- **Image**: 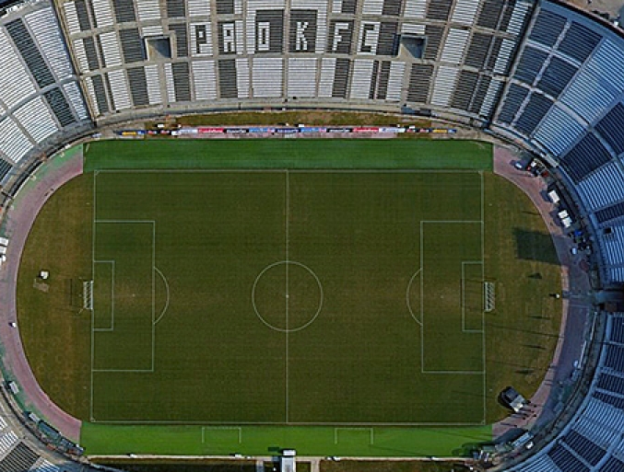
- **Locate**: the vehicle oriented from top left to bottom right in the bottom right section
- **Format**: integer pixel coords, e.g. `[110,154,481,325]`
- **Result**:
[496,383,525,414]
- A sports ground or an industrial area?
sports ground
